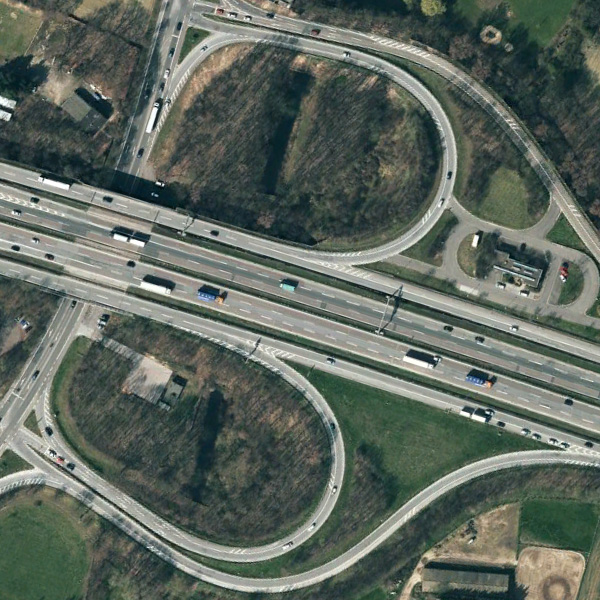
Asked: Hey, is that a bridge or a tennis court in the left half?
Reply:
bridge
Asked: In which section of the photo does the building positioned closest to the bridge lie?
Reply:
top left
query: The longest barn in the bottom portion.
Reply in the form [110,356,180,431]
[421,565,509,598]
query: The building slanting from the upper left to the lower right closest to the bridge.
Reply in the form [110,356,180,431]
[62,91,108,138]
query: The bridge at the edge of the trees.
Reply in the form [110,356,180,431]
[53,184,162,313]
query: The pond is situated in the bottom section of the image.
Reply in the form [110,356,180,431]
[192,393,227,504]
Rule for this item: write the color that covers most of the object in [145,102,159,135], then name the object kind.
white vehicle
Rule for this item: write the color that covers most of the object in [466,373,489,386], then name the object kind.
blue vehicle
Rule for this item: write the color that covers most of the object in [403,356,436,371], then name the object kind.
white vehicle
